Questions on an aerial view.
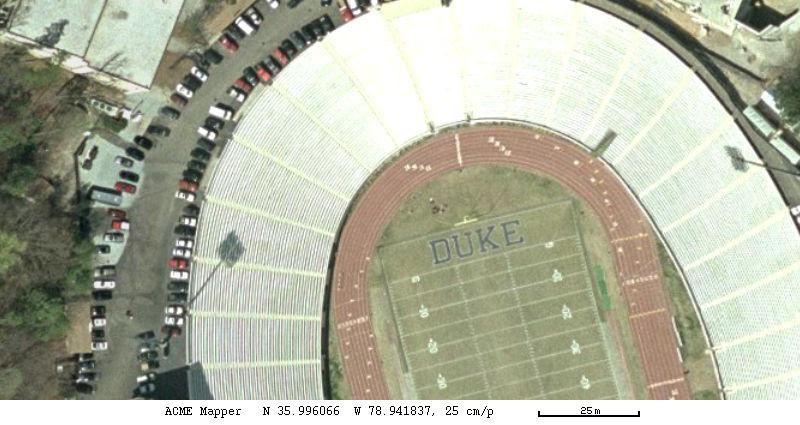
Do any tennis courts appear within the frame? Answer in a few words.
No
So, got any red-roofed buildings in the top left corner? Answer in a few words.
No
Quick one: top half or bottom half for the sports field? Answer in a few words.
bottom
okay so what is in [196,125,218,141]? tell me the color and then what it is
white vehicle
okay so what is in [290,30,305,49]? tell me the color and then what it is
gray car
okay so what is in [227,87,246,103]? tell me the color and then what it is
white car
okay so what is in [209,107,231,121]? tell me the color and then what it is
white vehicle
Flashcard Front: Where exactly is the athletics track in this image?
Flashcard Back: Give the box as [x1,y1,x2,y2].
[333,126,695,425]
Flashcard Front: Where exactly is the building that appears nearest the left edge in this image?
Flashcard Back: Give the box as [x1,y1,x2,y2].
[0,0,184,90]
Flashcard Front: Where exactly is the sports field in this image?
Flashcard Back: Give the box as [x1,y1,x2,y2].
[378,199,633,425]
